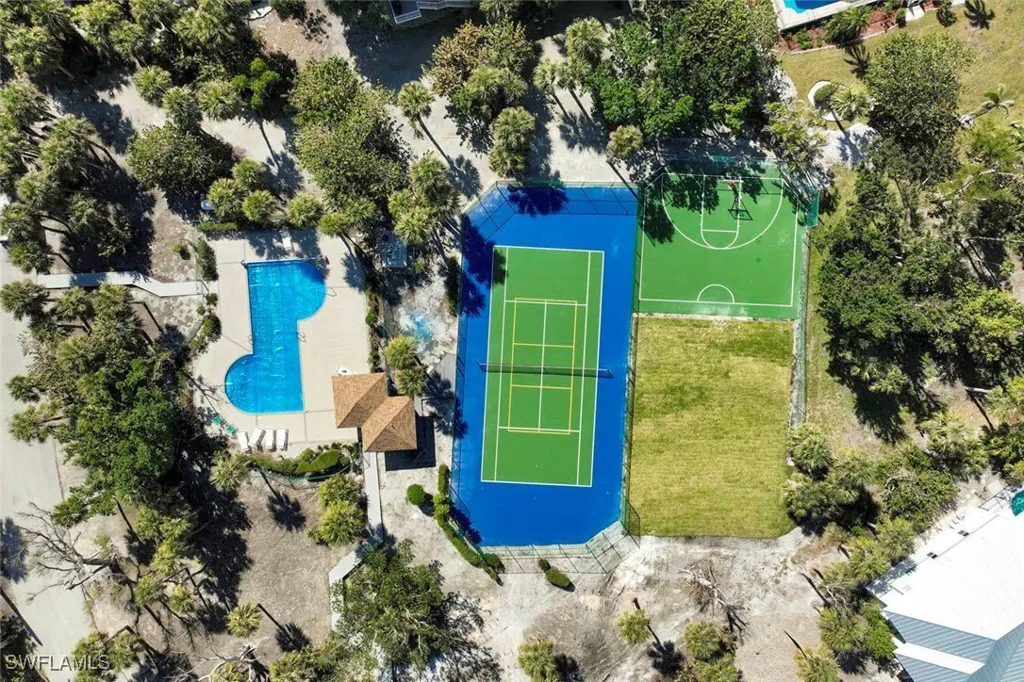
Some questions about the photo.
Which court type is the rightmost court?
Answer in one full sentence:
From above, the rightmost court can be identified as a basketball court.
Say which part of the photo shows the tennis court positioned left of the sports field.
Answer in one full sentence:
The tennis court positioned left of the sports field is located in the center region of the scene.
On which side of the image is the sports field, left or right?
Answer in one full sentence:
You can find the sports field on the right side of the picture.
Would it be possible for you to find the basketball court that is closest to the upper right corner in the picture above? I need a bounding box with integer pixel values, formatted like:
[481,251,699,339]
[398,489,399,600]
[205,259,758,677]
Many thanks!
[633,158,804,319]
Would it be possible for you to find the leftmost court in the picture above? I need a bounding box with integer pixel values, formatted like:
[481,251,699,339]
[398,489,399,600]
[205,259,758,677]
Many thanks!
[451,185,638,547]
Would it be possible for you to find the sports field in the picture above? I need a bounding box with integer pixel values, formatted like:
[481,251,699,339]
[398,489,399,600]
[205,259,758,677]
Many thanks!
[630,316,797,538]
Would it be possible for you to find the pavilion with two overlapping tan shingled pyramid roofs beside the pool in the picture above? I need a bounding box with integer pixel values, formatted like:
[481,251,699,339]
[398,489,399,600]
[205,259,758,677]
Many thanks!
[332,373,417,452]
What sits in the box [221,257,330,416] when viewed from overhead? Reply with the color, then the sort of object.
blue swimming pool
